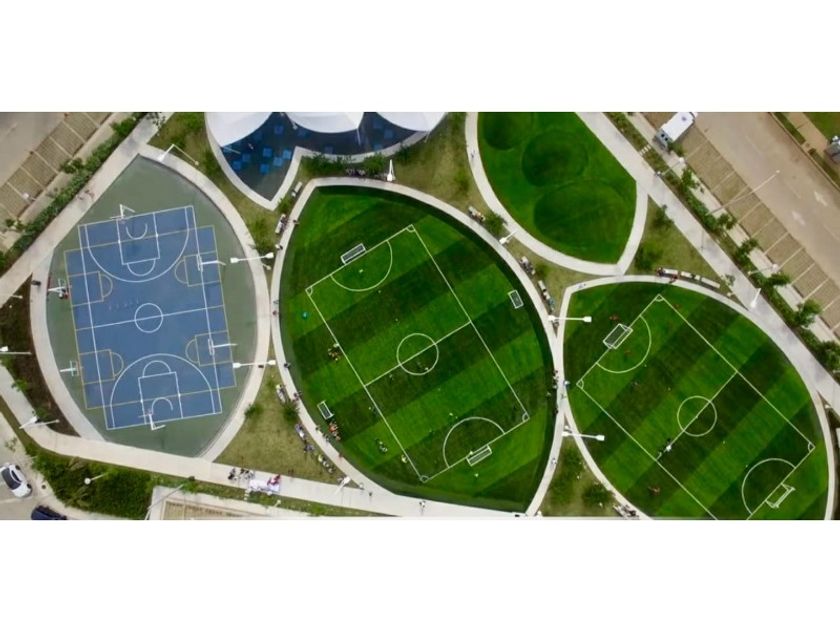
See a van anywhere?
Yes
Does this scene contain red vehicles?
No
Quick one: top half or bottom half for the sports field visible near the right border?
bottom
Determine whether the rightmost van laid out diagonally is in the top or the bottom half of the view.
top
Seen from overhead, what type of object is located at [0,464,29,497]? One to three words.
car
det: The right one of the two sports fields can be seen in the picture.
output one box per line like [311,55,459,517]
[564,282,829,561]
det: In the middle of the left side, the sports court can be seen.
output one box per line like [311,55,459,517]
[46,155,257,456]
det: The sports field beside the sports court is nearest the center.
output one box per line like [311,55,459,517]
[280,186,557,513]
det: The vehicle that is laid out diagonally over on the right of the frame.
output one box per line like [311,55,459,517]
[653,105,699,148]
